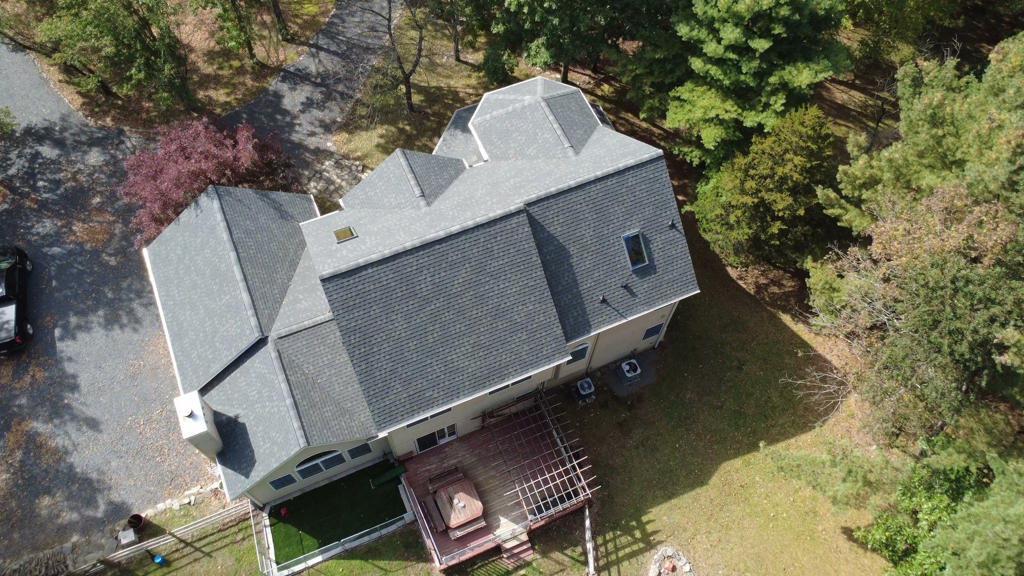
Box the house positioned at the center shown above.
[141,75,700,511]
